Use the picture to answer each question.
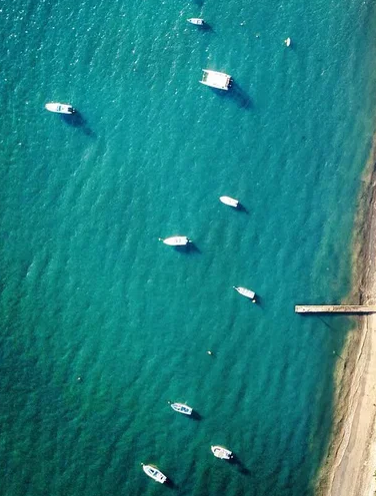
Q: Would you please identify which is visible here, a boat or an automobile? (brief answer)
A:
boat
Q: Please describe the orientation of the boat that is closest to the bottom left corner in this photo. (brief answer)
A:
at an angle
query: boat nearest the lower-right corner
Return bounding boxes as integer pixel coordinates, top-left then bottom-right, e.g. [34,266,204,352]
[211,448,234,462]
